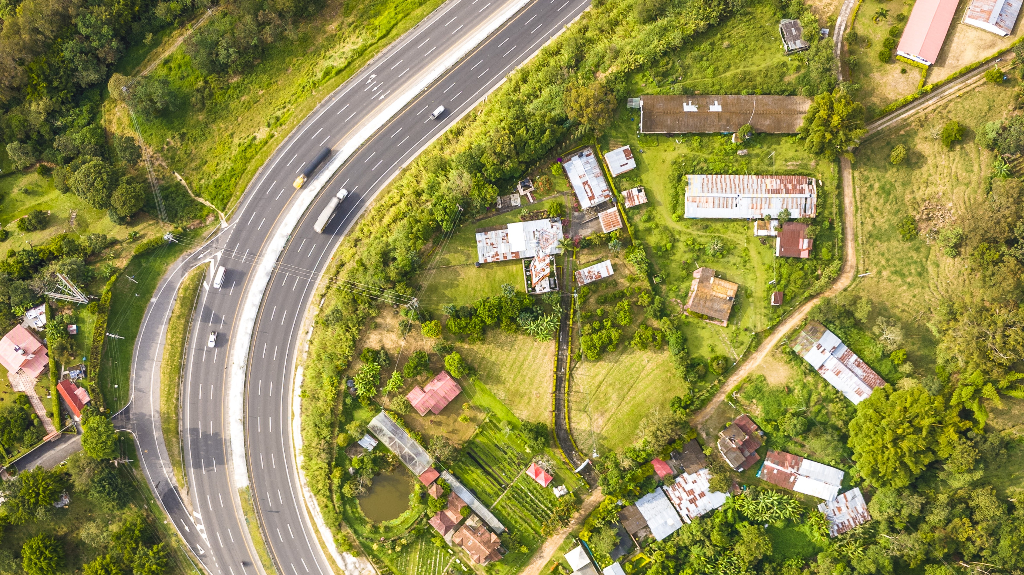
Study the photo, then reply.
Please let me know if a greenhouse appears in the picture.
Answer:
Yes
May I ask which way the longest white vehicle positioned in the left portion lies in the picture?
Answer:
diagonally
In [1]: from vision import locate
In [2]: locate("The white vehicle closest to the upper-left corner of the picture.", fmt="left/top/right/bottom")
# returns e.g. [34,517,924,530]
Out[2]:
[214,266,227,288]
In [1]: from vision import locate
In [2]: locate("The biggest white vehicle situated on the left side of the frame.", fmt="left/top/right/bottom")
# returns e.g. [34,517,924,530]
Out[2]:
[315,191,350,234]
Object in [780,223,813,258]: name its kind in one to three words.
house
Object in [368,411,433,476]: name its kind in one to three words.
greenhouse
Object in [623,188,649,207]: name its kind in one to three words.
shed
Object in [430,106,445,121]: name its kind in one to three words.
vehicle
